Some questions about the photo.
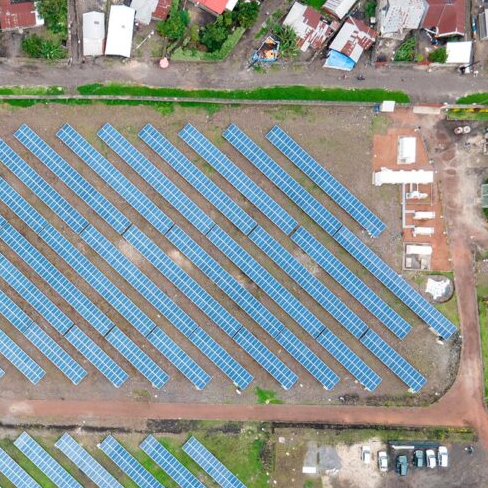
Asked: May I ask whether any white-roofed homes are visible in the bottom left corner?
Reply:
No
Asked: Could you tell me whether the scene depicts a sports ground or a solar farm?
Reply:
solar farm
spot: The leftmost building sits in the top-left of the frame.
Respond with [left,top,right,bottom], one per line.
[0,0,43,32]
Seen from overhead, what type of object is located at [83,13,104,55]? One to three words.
house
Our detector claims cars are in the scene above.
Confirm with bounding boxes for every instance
[413,449,425,468]
[396,455,408,477]
[425,449,437,469]
[437,446,448,467]
[361,444,371,464]
[377,452,388,472]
